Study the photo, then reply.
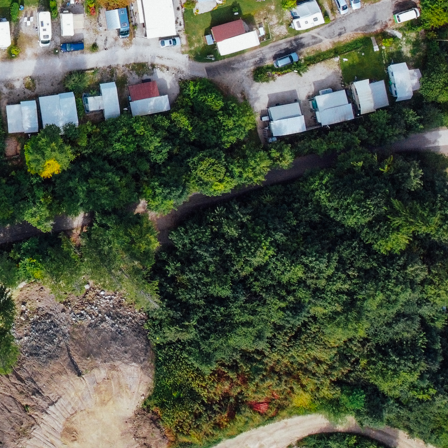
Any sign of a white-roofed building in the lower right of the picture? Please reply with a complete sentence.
No, no white-roofed building is visible in the lower right of the picture.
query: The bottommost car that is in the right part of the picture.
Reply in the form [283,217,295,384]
[274,52,299,67]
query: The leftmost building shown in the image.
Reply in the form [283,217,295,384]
[5,101,37,133]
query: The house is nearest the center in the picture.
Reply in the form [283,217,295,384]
[264,102,307,137]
